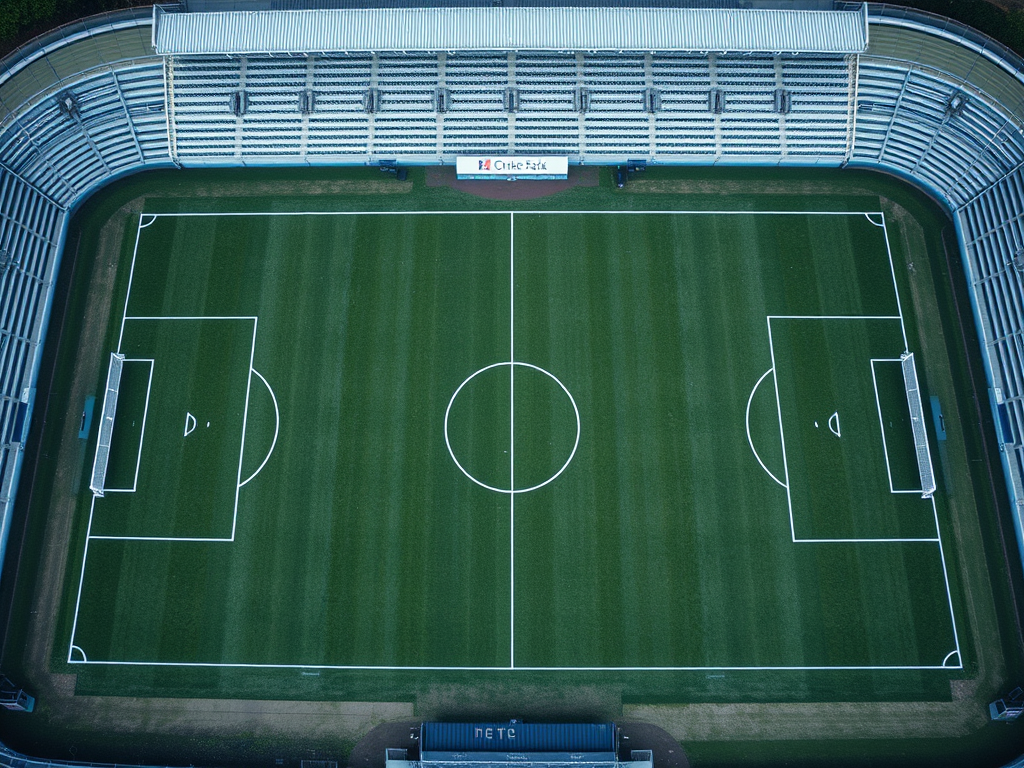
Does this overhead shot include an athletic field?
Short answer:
Yes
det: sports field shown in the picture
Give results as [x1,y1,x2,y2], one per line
[64,211,962,669]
